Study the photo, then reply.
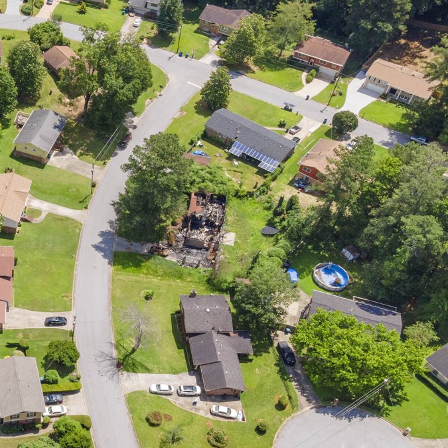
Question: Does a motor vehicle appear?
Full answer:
Yes, the image includes a motor vehicle.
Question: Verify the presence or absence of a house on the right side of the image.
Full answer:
Yes, there is a house on the right side of the image.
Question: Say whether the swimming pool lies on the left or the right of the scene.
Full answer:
It is on the right.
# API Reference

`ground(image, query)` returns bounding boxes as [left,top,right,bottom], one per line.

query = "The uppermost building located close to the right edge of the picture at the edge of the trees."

[361,59,441,106]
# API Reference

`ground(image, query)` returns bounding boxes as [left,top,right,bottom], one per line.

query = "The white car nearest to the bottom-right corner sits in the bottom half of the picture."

[211,404,241,421]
